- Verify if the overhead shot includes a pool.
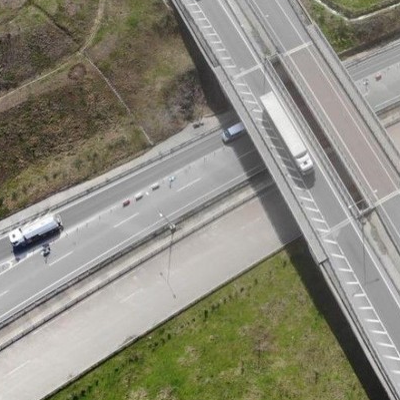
No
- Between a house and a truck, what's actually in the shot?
truck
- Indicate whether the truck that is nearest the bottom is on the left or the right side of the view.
left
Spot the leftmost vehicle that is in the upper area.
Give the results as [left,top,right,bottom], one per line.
[221,123,248,144]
